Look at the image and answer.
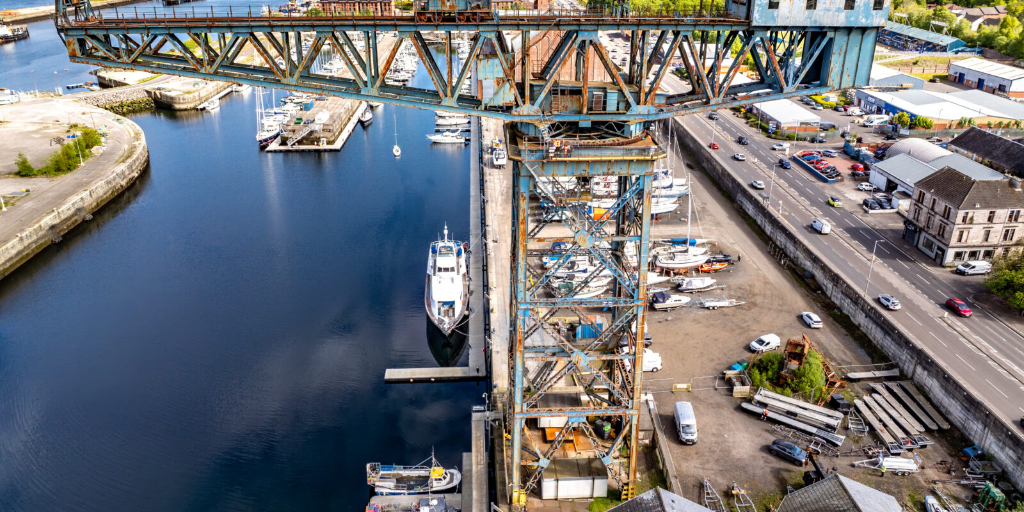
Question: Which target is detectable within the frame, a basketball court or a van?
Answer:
van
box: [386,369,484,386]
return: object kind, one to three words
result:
pier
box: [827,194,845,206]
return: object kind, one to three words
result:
vehicle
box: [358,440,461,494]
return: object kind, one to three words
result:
boat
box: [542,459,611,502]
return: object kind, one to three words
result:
building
